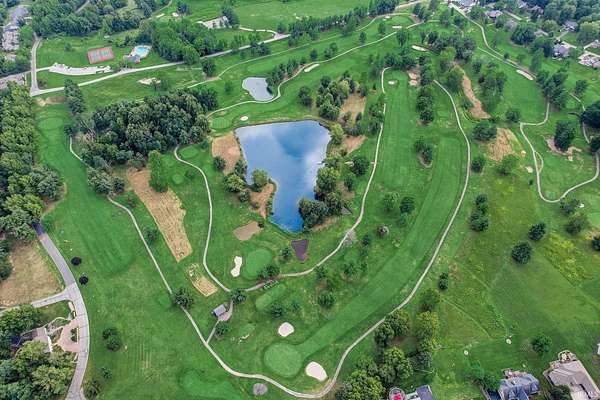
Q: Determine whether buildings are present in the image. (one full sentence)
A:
Yes, there's a building down there.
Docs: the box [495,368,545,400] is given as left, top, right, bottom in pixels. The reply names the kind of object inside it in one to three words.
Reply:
house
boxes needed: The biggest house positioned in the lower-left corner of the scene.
[11,326,39,350]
